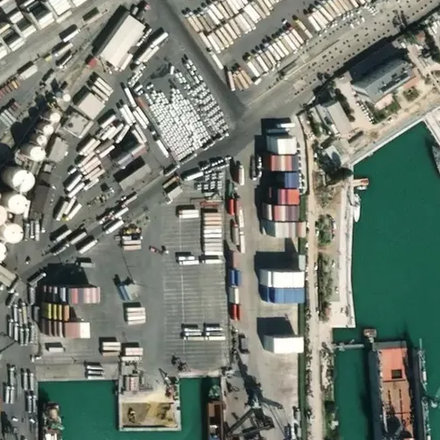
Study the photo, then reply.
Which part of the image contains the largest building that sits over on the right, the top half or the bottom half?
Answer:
top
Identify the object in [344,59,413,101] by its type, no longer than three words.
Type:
building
